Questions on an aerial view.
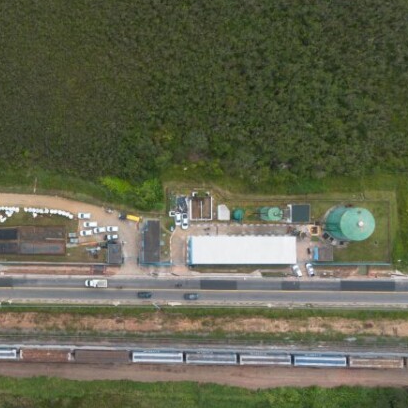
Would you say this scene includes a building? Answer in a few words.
Yes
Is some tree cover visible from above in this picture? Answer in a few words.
Yes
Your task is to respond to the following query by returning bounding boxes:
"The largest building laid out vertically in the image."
[140,219,160,263]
